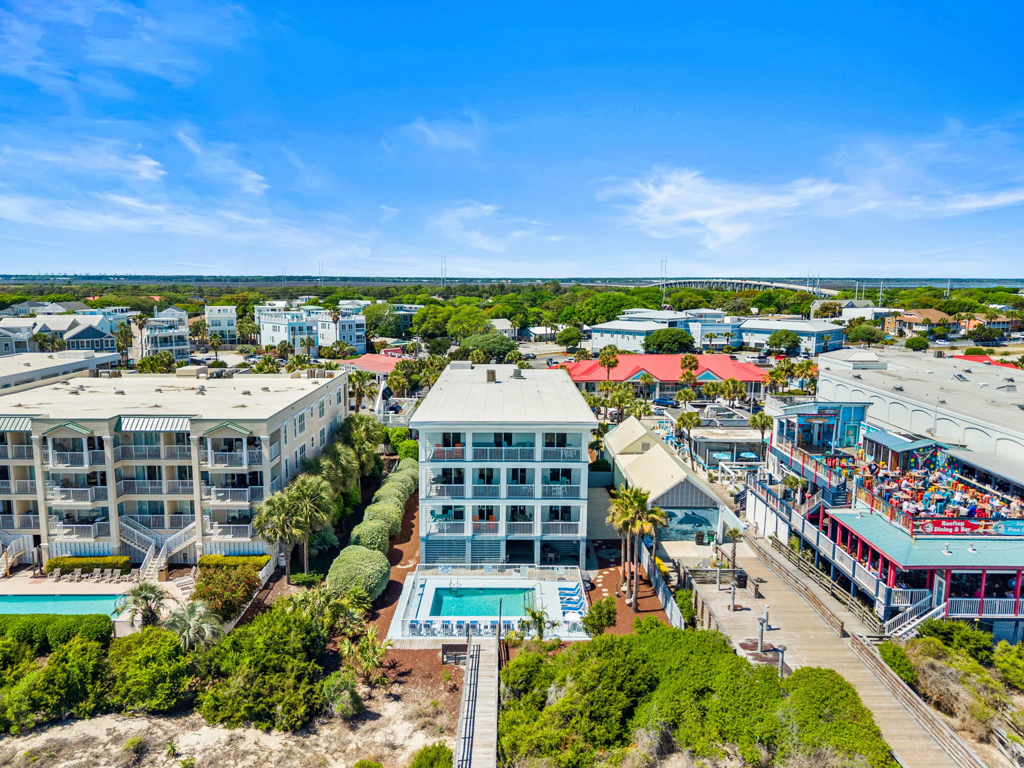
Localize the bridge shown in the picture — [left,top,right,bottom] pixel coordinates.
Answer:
[639,279,843,294]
